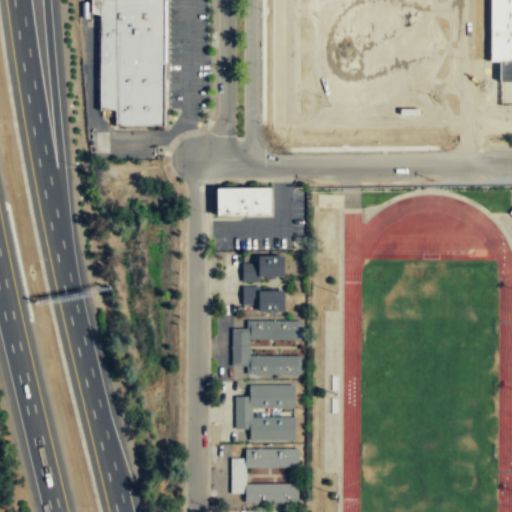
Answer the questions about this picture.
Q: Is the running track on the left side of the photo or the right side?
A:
right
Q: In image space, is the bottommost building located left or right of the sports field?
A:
to the left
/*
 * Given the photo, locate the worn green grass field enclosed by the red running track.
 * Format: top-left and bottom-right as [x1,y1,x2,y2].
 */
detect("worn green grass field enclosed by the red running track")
[362,261,499,512]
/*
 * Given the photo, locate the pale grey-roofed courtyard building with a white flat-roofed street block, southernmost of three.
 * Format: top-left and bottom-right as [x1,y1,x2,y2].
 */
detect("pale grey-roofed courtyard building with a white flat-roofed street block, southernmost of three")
[232,449,300,502]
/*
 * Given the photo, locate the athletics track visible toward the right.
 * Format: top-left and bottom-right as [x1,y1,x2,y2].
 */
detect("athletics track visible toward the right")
[345,195,512,512]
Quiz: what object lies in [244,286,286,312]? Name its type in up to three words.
house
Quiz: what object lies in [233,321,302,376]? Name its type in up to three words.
building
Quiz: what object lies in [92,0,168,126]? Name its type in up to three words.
building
